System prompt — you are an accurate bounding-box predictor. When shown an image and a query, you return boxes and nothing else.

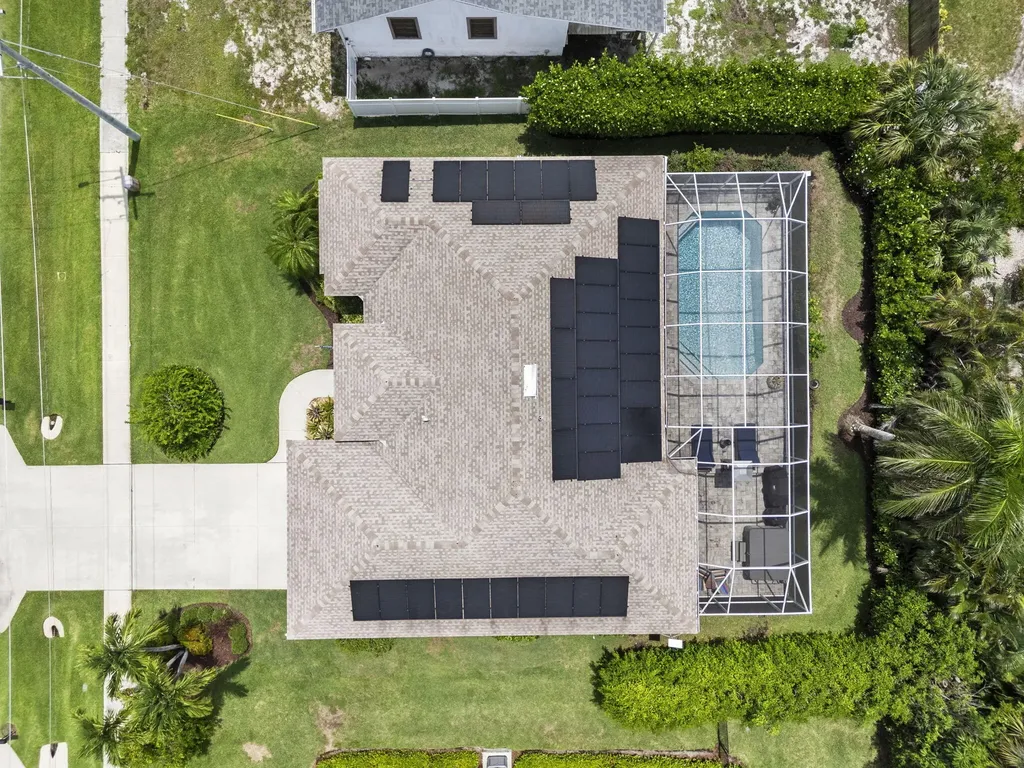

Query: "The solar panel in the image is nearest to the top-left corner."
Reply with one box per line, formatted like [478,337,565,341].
[380,161,411,202]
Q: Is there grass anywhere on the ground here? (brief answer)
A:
Yes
